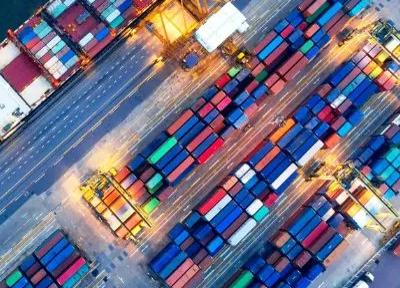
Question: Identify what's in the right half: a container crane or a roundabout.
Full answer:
It is a container crane that can be seen in the right half.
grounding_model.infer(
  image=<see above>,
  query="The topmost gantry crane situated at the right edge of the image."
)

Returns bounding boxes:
[338,16,400,63]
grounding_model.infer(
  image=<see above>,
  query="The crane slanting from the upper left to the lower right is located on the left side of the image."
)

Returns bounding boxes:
[80,169,153,244]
